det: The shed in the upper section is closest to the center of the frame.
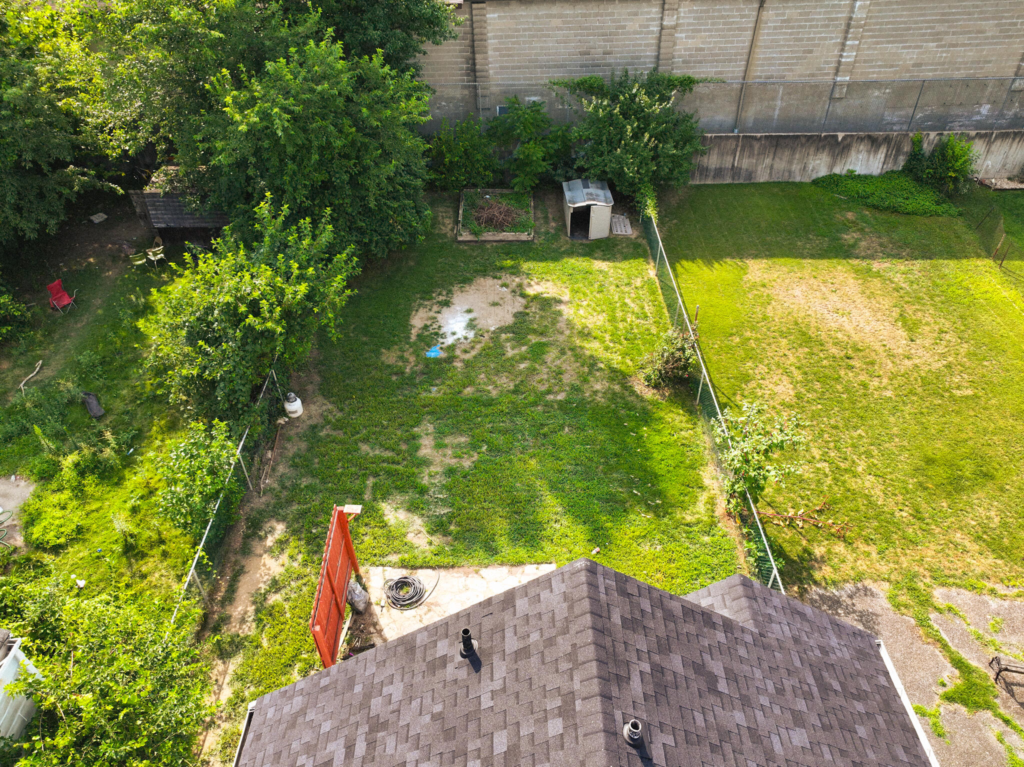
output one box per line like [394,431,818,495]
[564,180,617,240]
